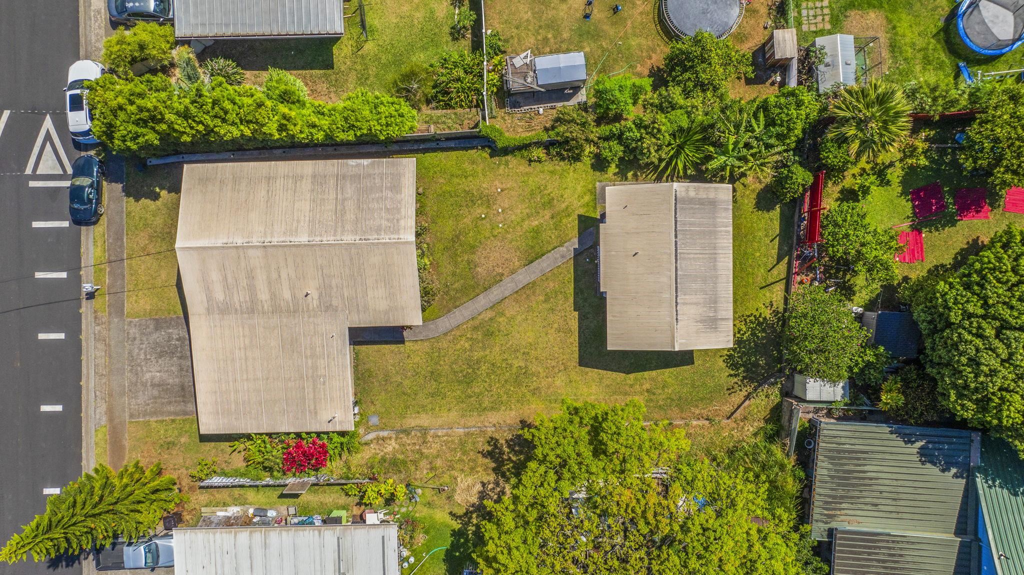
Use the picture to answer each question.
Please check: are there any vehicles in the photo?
Yes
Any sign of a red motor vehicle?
No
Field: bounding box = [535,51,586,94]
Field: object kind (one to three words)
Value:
shed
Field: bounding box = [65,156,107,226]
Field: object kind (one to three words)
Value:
car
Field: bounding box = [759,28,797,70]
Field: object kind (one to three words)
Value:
shed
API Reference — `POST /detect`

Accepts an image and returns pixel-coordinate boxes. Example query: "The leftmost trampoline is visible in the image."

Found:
[658,0,744,42]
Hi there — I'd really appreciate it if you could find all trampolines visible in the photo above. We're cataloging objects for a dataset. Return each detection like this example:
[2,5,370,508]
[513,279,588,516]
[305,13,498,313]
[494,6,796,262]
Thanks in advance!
[956,0,1024,53]
[658,0,744,42]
